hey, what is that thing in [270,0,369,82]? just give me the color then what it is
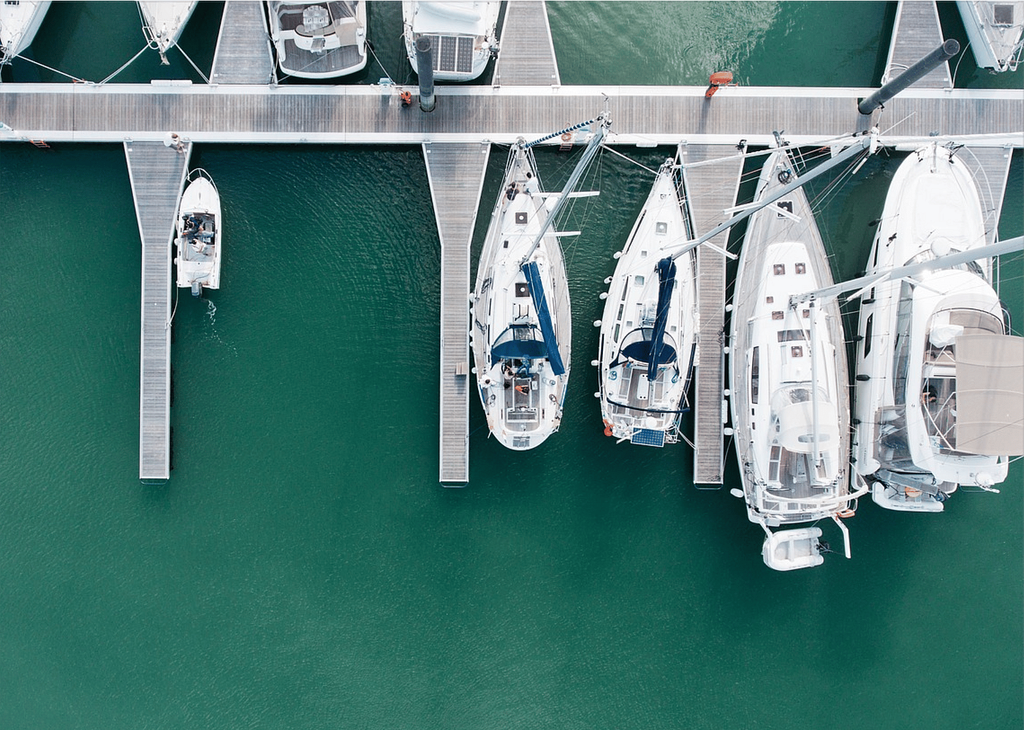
gray boat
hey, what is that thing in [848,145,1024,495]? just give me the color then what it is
white boat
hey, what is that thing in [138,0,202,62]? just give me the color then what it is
white boat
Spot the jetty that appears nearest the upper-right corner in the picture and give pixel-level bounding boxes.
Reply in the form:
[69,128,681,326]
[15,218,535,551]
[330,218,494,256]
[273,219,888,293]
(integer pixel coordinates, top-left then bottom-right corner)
[879,0,957,89]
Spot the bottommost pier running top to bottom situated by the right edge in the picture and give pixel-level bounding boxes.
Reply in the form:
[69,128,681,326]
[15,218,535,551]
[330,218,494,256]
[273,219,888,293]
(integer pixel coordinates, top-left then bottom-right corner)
[948,145,1015,301]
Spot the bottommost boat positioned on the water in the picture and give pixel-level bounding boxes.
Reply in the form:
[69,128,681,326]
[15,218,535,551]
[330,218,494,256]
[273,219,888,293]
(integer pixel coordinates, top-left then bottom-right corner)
[763,533,832,570]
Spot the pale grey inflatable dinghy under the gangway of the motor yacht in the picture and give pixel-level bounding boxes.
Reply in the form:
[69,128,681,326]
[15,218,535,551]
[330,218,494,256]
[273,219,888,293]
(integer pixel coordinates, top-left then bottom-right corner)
[875,475,951,511]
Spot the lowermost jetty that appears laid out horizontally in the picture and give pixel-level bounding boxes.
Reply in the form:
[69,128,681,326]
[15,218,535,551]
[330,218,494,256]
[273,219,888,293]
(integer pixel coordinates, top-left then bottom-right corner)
[0,83,1024,150]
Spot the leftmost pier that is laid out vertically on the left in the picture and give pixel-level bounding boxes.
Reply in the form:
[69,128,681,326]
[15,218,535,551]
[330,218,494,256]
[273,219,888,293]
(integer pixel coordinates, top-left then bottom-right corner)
[123,140,192,485]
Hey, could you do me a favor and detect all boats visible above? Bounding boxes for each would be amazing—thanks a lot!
[875,475,951,511]
[603,105,896,447]
[472,86,624,450]
[176,168,224,296]
[0,0,54,61]
[763,533,832,570]
[138,0,202,62]
[400,0,499,86]
[725,126,1024,558]
[270,0,369,82]
[848,145,1024,495]
[955,0,1024,75]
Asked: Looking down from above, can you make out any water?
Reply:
Yes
